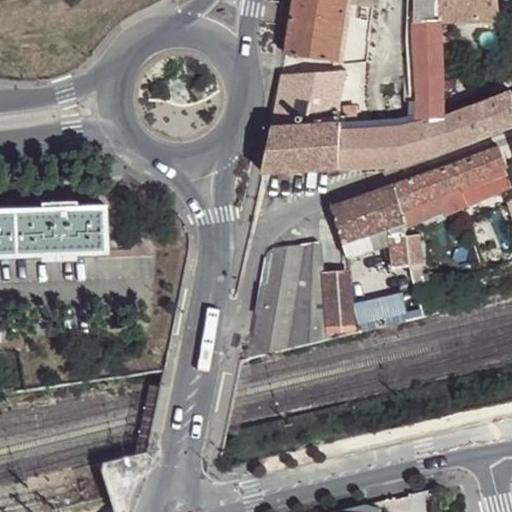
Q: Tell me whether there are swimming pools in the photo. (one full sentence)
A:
Yes, the picture does show a swimming pool.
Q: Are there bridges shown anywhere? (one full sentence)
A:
Yes, a bridge is visible in the scene.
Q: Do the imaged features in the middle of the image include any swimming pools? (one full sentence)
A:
No, looking in the middle of the image, there is no swimming pool.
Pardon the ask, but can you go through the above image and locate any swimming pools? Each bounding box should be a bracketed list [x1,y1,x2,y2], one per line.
[479,32,496,49]
[491,212,512,247]
[452,247,470,263]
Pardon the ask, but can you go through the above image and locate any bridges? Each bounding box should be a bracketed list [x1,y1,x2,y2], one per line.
[148,361,242,454]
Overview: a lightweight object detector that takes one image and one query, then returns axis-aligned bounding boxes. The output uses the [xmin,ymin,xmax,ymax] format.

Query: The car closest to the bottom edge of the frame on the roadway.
[424,456,448,468]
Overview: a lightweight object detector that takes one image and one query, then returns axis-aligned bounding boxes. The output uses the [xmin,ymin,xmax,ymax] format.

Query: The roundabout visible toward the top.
[96,12,262,180]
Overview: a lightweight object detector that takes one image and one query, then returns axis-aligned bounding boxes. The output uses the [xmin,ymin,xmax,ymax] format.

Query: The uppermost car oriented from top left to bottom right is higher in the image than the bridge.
[152,158,176,180]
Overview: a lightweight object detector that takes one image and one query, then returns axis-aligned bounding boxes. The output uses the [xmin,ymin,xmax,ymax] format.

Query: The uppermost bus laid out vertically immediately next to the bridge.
[196,306,220,372]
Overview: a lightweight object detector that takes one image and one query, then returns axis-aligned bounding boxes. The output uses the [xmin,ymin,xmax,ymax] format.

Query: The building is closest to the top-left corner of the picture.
[0,200,110,262]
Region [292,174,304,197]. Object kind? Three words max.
vehicle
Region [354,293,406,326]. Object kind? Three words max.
shed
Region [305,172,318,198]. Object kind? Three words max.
vehicle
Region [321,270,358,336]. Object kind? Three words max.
house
